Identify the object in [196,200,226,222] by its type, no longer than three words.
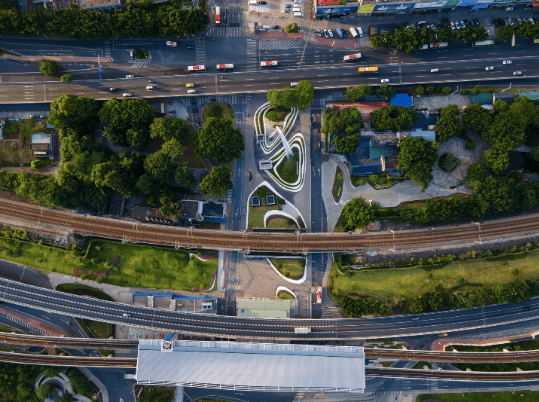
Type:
house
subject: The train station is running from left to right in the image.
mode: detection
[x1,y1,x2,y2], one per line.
[135,336,366,393]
